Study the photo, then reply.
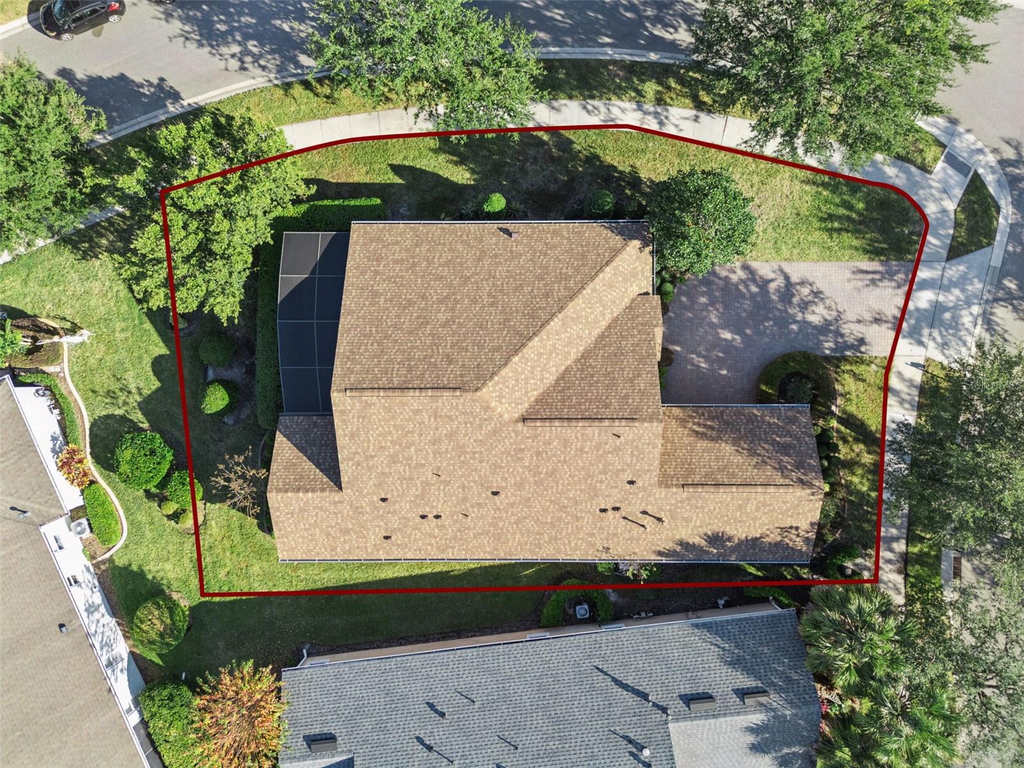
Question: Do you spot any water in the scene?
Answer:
No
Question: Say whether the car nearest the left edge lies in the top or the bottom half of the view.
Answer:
top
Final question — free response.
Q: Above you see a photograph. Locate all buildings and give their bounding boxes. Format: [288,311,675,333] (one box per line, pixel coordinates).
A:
[279,599,821,768]
[0,375,159,768]
[267,219,825,565]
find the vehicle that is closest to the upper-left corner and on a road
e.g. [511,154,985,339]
[38,0,124,41]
